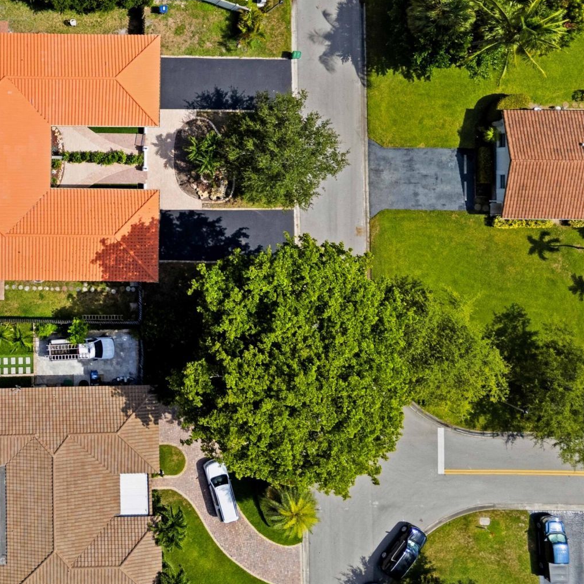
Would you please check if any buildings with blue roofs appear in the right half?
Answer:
No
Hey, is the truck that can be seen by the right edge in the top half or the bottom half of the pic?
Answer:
bottom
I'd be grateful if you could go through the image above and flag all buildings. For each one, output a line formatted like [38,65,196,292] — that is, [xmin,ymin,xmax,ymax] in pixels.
[0,385,163,584]
[488,109,584,221]
[0,33,160,282]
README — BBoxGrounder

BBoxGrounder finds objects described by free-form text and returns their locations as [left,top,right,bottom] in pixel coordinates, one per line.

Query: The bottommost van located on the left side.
[203,458,242,523]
